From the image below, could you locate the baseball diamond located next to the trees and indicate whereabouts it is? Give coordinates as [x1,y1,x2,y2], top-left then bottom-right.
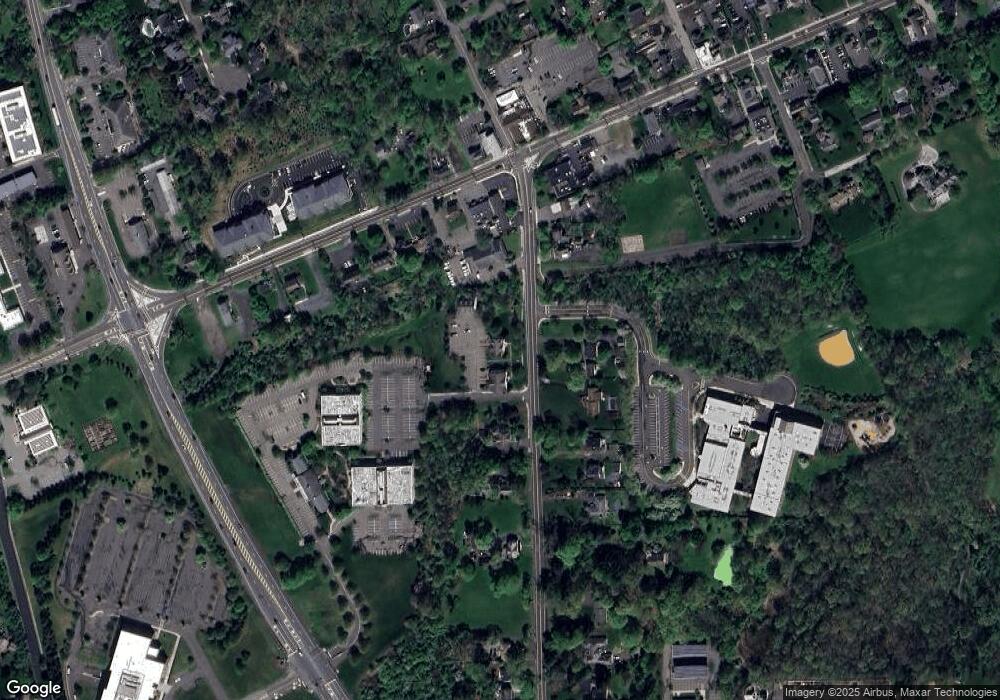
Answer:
[819,327,860,366]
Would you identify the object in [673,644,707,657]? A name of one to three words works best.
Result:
shed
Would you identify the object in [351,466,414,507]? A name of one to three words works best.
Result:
building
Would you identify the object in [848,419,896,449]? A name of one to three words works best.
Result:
playground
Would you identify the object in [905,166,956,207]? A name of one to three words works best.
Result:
house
